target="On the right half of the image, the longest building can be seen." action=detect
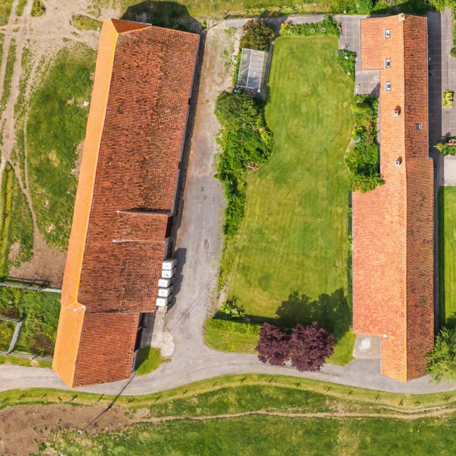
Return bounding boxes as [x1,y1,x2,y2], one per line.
[351,14,436,382]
